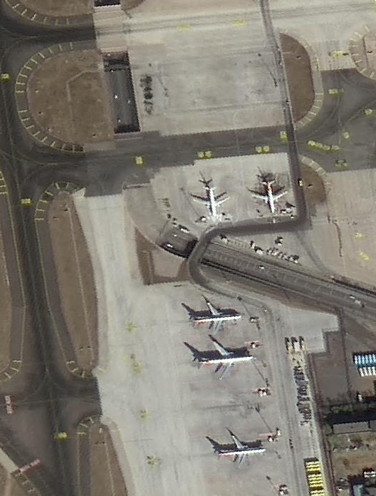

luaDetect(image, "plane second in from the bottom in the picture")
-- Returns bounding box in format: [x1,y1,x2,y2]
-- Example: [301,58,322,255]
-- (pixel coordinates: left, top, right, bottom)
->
[199,343,254,380]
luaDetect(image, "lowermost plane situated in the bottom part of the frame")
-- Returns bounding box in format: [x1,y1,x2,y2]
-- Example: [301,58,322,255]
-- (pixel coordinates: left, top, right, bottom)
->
[215,434,265,470]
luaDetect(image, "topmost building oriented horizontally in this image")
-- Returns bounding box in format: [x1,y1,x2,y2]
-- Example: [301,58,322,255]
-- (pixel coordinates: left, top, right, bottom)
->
[333,421,369,433]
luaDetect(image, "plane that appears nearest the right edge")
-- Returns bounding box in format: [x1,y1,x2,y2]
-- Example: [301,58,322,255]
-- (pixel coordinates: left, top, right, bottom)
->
[251,180,289,214]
